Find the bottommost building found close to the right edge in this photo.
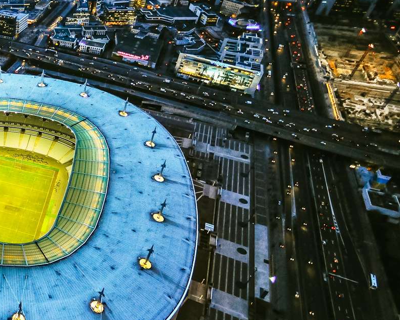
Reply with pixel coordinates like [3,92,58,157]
[359,185,400,218]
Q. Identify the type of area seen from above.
sports ground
